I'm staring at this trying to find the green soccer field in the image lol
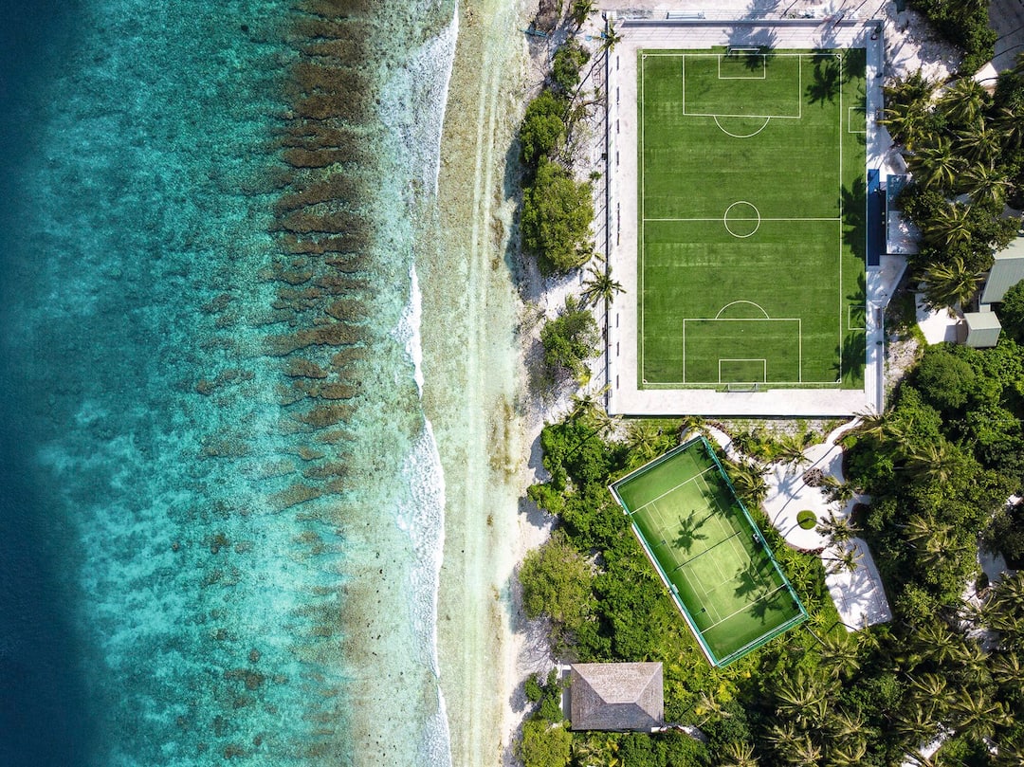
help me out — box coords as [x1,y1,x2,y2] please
[637,45,866,392]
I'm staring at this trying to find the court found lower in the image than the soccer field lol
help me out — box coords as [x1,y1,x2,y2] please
[614,437,803,663]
